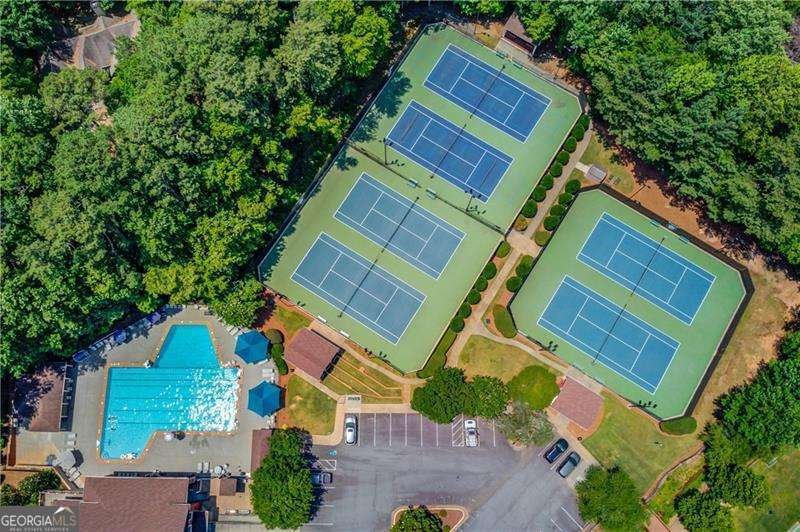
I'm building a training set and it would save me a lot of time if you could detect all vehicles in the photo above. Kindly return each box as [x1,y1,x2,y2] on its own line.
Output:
[464,418,477,449]
[557,452,583,480]
[307,473,334,486]
[344,416,357,445]
[545,438,570,466]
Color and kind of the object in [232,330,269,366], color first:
blue umbrella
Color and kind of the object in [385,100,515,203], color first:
blue tennis court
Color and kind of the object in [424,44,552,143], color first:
blue tennis court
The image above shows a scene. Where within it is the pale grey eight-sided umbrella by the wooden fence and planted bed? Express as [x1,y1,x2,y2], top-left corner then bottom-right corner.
[52,452,73,472]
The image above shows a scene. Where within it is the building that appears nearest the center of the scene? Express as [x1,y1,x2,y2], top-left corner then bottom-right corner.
[285,329,341,374]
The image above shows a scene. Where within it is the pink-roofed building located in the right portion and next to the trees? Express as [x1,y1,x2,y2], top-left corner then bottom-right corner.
[552,377,604,430]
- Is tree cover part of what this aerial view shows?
Yes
